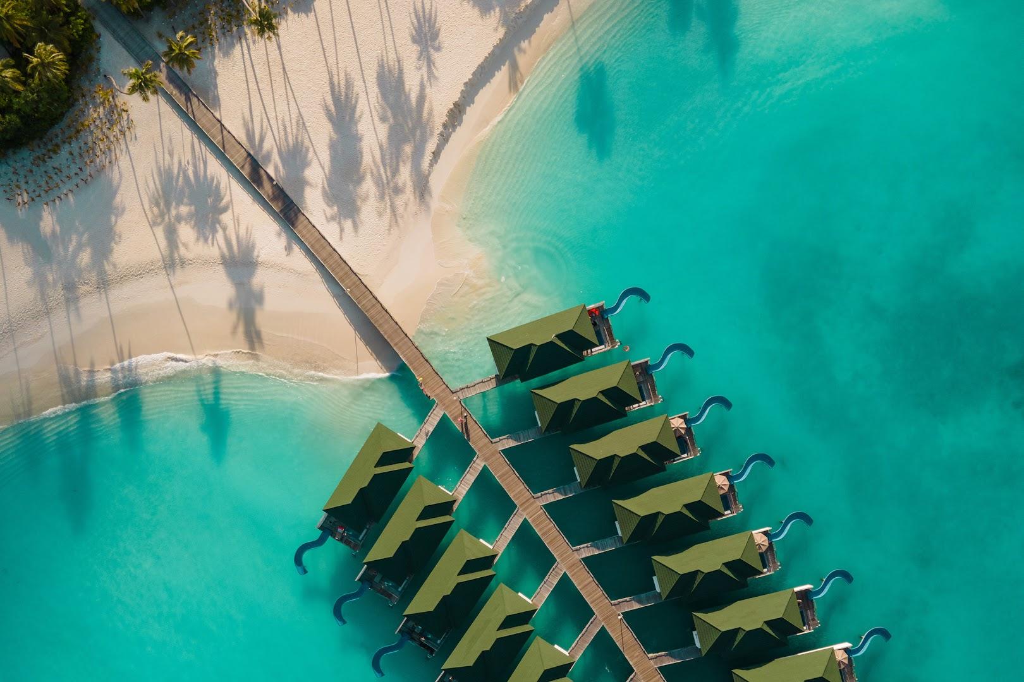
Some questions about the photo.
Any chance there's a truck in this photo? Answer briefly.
No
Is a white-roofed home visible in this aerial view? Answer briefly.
No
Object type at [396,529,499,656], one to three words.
house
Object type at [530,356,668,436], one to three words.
house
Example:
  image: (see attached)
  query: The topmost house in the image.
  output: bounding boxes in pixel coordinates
[487,301,626,382]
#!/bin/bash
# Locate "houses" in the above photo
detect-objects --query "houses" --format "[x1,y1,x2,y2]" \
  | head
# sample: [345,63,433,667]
[358,476,460,604]
[652,523,783,604]
[434,580,537,682]
[612,466,746,547]
[726,636,860,682]
[569,409,704,492]
[396,529,499,656]
[690,580,822,661]
[505,630,573,682]
[530,356,668,436]
[319,422,420,554]
[487,301,626,382]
